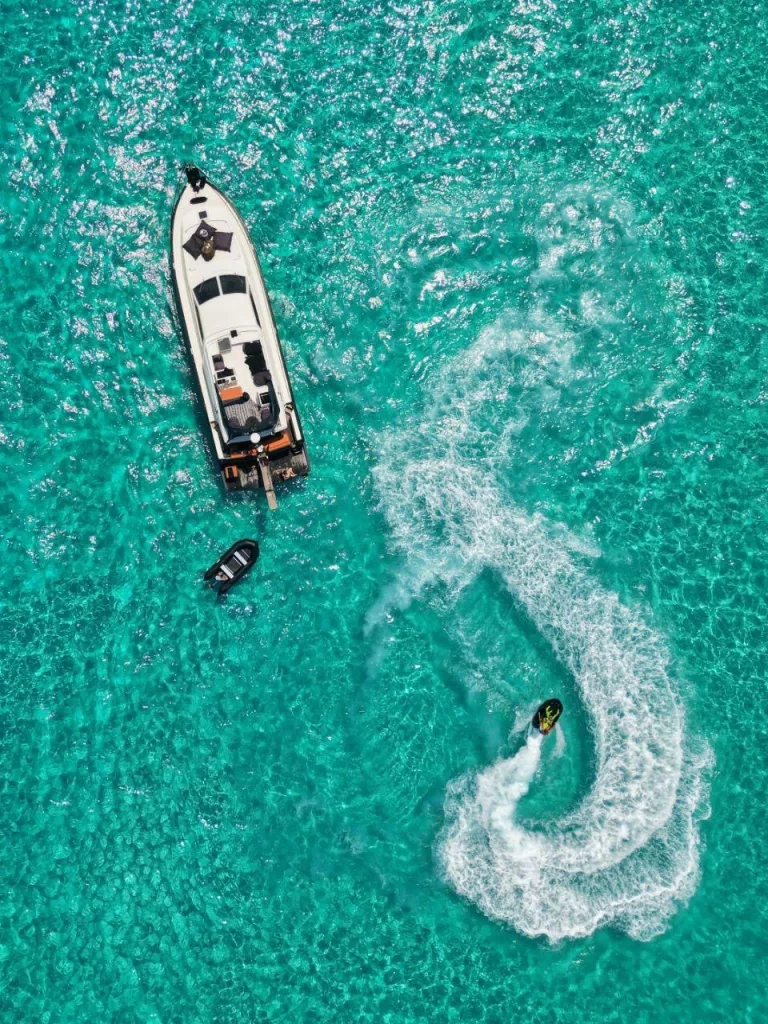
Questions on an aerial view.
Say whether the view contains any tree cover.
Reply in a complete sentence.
No, there's no tree cover in this view.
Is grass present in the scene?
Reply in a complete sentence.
No, grass can't be seen anywhere here.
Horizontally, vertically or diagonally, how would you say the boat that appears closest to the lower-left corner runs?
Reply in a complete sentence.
In this picture, the boat that appears closest to the lower-left corner is oriented diagonally.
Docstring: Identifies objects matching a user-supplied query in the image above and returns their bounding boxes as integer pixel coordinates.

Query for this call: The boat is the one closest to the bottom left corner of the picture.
[204,540,258,594]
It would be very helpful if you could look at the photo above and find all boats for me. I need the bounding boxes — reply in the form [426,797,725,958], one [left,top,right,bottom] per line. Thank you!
[204,540,258,594]
[533,698,561,738]
[171,160,309,509]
